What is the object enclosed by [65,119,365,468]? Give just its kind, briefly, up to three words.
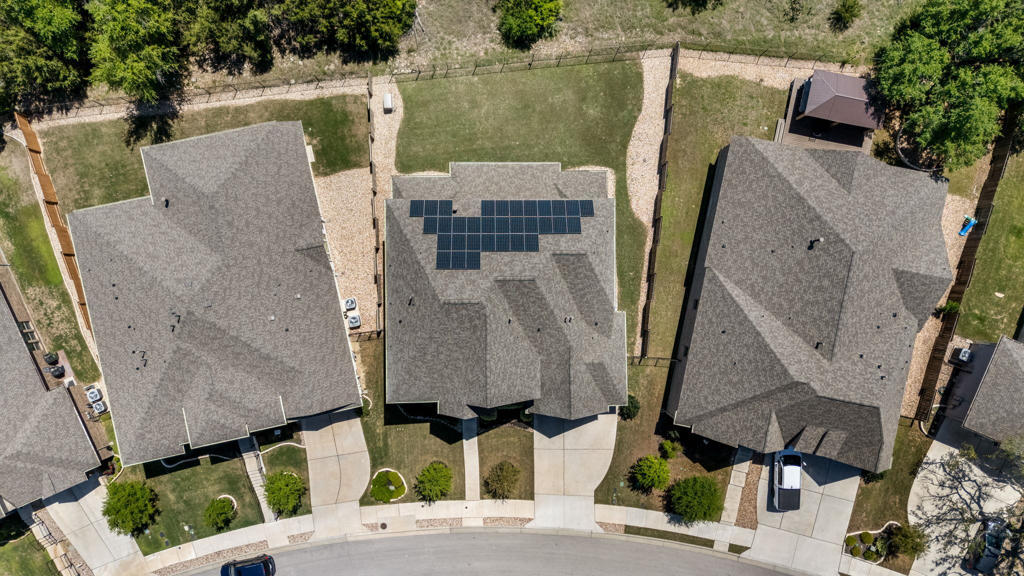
house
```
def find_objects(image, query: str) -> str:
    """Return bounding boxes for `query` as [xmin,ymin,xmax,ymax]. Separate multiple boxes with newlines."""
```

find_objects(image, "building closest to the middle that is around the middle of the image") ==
[384,161,628,419]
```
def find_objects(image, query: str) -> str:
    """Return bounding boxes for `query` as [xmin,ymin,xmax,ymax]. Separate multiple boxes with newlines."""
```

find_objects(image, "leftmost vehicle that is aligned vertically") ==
[773,442,806,510]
